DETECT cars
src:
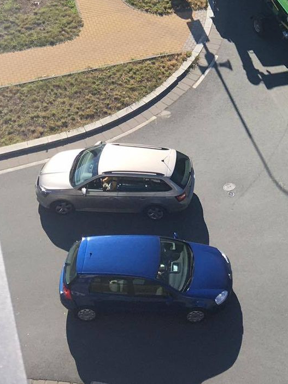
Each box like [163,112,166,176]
[32,134,201,218]
[54,226,232,318]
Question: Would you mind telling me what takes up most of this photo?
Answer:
paved ground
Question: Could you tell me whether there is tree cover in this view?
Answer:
No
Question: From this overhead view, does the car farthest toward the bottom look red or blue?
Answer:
blue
